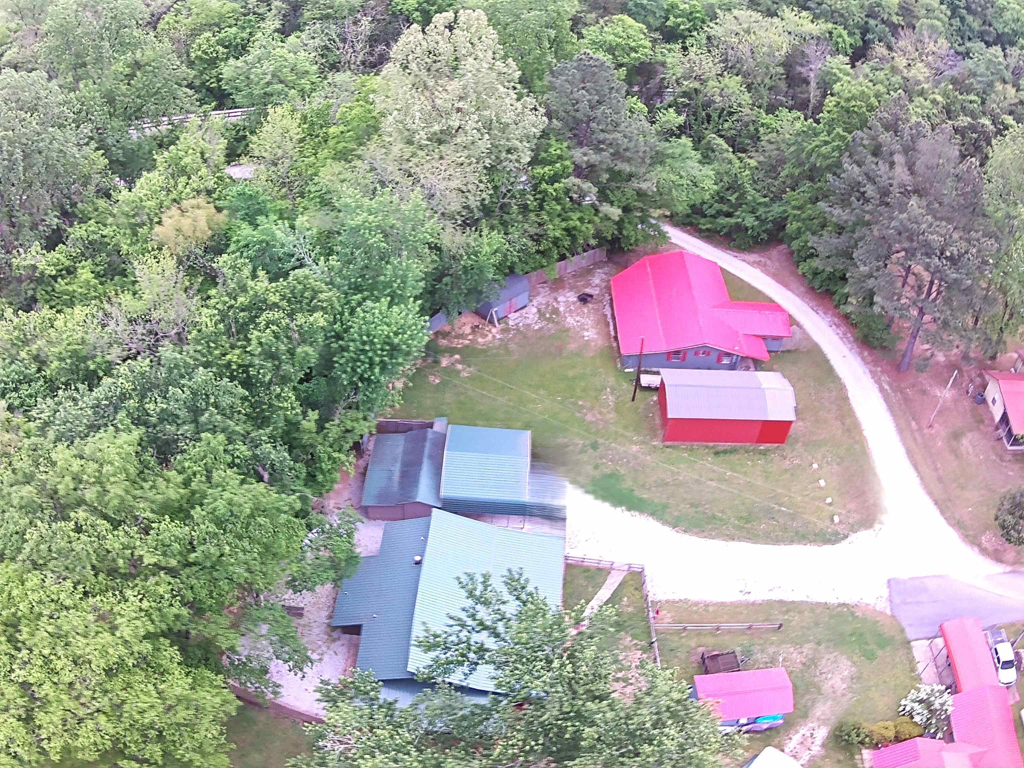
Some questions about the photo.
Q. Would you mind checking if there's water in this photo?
No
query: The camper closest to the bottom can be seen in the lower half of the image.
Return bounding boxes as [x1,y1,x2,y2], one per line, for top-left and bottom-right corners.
[759,744,809,768]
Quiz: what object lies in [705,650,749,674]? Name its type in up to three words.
trailer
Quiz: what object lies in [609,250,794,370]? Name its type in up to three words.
house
